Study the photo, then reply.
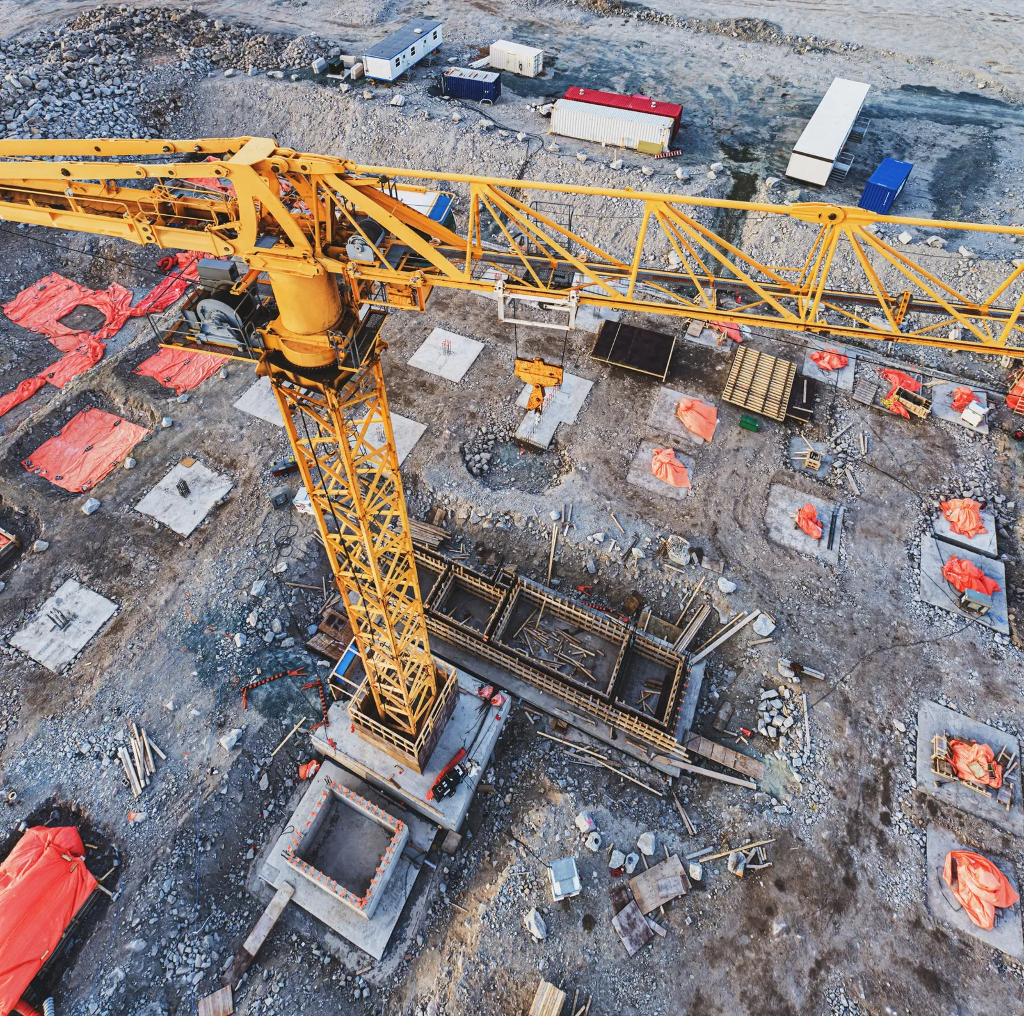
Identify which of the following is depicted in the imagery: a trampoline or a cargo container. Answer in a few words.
cargo container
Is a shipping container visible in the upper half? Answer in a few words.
Yes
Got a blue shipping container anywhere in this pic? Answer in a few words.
Yes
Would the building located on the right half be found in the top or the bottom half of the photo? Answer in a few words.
top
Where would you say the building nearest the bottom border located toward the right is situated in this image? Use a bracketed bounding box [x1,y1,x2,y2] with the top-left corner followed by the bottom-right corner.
[787,74,881,189]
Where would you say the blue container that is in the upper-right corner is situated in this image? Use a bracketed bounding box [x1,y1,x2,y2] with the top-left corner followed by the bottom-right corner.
[859,152,917,213]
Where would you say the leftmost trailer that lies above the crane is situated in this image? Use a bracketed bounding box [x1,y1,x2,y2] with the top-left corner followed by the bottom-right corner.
[360,15,449,86]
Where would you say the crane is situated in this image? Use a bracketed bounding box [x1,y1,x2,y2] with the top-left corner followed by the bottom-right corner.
[0,130,1024,738]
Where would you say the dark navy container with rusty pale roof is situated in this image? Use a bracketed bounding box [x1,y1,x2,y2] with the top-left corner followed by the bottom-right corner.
[445,60,505,104]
